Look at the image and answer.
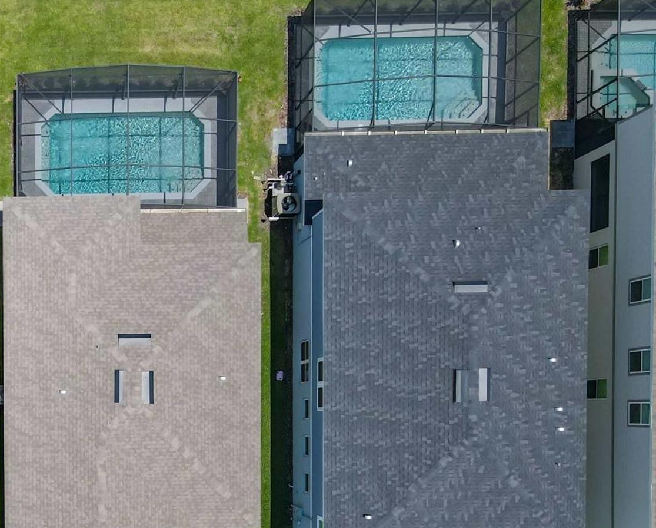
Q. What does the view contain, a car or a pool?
pool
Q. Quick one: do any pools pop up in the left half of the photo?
Yes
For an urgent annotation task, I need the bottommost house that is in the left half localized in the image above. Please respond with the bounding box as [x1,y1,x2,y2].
[1,194,262,528]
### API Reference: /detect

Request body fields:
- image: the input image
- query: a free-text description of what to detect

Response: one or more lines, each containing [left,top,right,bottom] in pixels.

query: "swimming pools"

[589,21,656,127]
[316,24,491,125]
[33,99,213,200]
